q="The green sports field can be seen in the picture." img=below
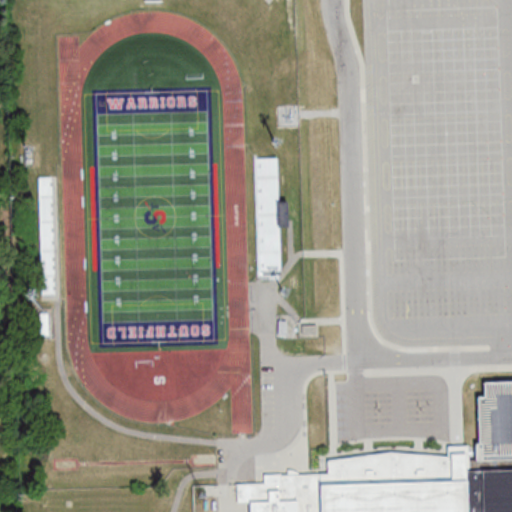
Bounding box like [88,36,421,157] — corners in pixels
[82,33,229,353]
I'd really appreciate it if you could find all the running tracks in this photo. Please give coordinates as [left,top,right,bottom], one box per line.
[57,12,253,434]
